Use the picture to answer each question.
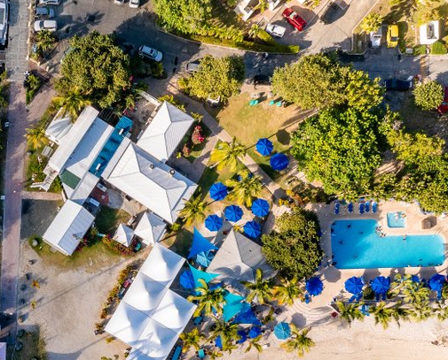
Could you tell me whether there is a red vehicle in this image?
Yes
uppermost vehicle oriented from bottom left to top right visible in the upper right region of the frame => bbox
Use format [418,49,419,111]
[316,1,339,27]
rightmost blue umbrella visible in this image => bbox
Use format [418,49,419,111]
[425,274,443,292]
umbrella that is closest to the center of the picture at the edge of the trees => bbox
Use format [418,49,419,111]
[208,184,226,201]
